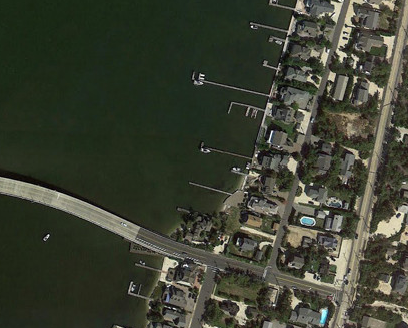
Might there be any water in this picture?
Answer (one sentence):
Yes, the picture does contain water.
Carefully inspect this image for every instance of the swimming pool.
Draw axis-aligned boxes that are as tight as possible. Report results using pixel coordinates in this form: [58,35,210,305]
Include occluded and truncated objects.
[301,216,316,226]
[325,195,342,208]
[320,308,328,324]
